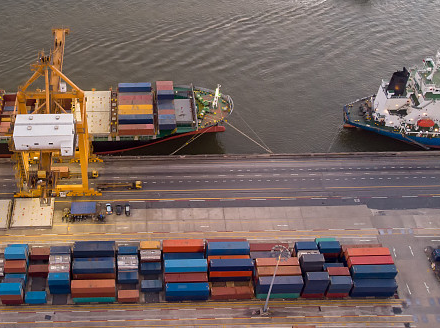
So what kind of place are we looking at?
port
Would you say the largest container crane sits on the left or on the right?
left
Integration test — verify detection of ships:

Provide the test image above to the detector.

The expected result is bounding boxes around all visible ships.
[0,82,234,157]
[335,44,440,149]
